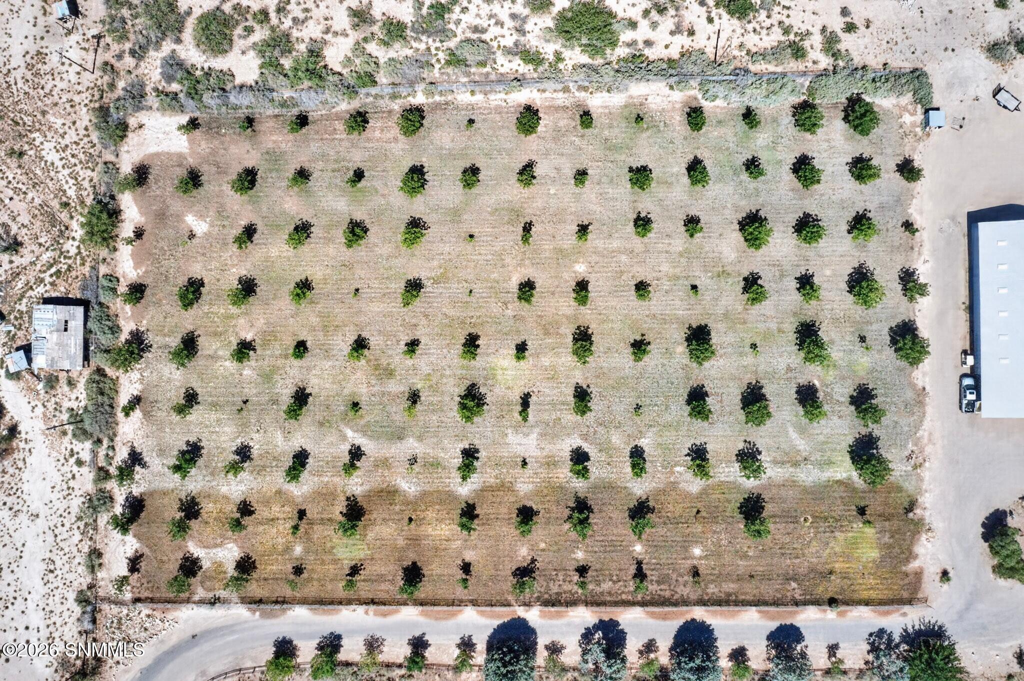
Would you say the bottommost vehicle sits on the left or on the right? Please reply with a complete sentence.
The bottommost vehicle sits on the right side.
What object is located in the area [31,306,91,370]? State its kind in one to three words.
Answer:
shed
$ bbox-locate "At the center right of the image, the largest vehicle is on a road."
[958,374,978,414]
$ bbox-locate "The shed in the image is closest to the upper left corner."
[53,0,82,29]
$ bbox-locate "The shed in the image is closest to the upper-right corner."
[921,110,945,130]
